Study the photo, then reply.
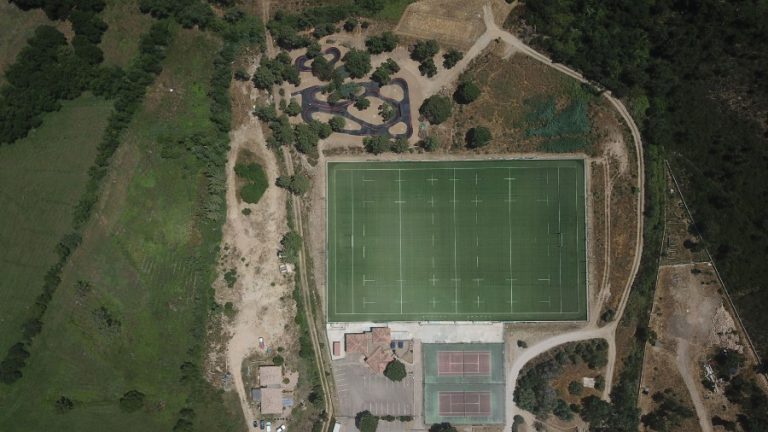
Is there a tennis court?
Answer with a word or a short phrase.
Yes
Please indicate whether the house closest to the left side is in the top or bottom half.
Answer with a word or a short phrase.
bottom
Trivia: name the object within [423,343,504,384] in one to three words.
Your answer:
tennis court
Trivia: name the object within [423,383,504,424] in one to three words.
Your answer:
tennis court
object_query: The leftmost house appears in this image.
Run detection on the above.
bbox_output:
[253,365,294,414]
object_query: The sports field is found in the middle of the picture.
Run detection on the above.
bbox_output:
[327,158,589,323]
